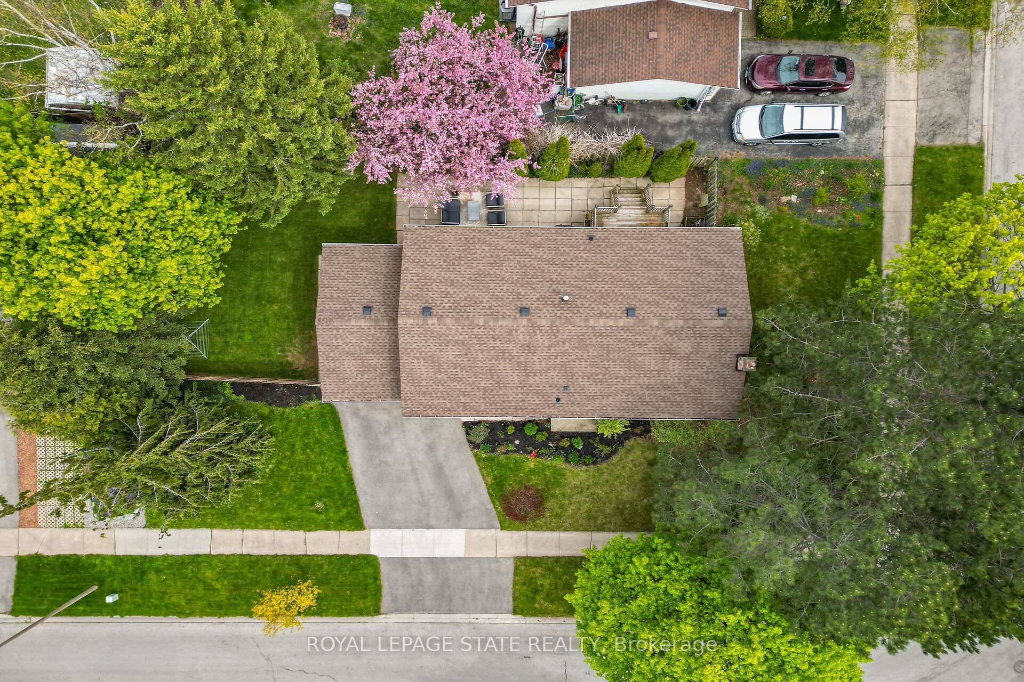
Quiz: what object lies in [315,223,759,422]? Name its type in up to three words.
house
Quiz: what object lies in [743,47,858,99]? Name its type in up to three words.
car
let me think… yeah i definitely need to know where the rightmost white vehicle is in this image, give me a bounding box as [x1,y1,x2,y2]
[732,97,851,150]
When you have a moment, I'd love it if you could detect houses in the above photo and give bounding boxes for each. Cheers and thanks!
[502,0,755,102]
[315,223,759,422]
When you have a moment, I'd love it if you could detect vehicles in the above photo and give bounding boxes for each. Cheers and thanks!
[743,47,858,99]
[732,97,851,150]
